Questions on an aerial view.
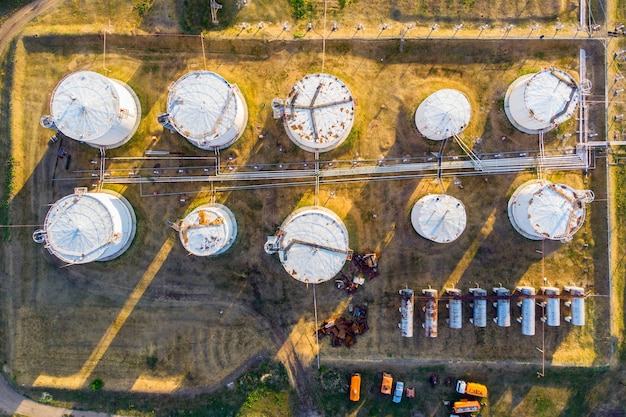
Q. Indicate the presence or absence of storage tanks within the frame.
Yes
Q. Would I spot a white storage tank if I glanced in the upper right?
Yes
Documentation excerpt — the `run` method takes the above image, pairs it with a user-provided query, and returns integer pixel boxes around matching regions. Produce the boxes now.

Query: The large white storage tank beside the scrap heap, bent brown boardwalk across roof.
[265,207,355,289]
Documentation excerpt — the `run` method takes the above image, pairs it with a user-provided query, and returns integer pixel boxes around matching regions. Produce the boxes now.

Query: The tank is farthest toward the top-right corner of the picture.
[503,65,593,136]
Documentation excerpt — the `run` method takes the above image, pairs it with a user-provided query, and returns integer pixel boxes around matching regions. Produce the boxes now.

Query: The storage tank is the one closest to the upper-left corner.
[39,70,141,152]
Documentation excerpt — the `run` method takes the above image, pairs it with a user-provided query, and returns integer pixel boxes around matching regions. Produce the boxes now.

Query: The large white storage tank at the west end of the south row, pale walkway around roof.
[29,188,134,270]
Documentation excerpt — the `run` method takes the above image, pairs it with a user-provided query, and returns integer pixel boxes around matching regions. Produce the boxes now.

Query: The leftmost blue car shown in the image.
[392,382,405,405]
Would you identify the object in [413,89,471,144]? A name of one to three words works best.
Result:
storage tank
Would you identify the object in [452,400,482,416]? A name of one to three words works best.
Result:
vehicle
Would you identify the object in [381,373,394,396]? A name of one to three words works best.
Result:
vehicle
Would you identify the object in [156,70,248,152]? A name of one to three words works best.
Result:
storage tank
